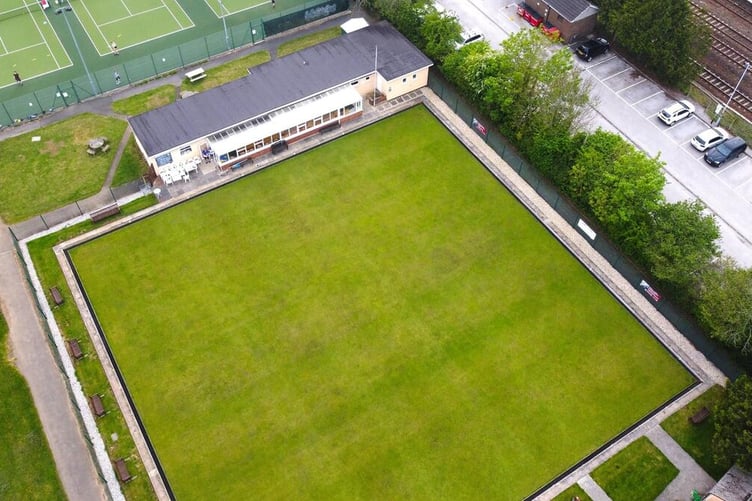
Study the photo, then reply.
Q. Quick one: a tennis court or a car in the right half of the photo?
car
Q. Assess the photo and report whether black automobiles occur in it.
Yes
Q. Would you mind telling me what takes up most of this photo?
grass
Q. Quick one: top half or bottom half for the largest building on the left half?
top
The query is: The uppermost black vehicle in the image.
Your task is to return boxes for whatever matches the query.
[579,37,614,60]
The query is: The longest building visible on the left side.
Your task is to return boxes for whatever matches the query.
[124,21,432,180]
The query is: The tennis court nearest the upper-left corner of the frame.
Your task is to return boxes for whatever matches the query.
[0,0,73,88]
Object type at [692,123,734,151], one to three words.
car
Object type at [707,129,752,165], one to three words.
car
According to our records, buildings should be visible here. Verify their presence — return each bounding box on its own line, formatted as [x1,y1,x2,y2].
[514,0,605,41]
[704,461,752,501]
[124,21,432,180]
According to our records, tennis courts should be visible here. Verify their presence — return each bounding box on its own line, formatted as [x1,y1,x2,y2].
[205,0,270,18]
[0,0,73,88]
[69,0,194,56]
